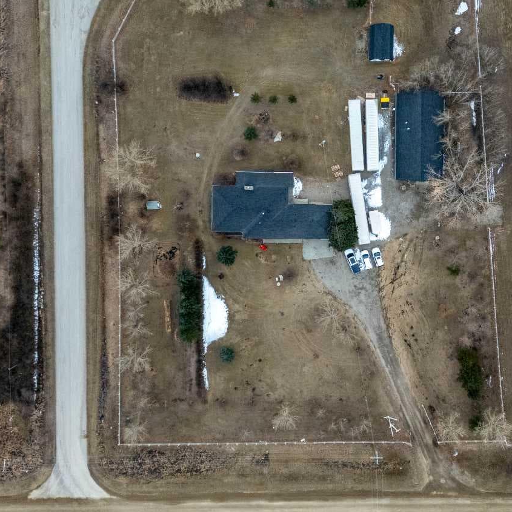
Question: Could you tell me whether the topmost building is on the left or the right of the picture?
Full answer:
It is on the right.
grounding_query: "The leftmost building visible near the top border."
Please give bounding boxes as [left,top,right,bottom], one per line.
[368,22,393,66]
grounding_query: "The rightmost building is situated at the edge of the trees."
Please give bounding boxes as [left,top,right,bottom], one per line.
[393,89,445,181]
